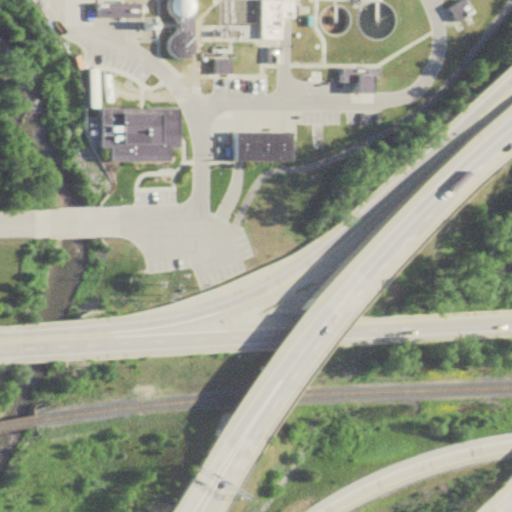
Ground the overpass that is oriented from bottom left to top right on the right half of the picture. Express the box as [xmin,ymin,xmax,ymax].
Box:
[176,102,512,512]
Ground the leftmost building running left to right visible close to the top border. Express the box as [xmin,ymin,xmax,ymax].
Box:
[94,4,142,18]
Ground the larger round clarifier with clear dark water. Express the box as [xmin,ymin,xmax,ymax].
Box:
[358,0,396,39]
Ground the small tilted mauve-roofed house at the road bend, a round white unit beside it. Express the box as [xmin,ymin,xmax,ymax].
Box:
[446,1,472,22]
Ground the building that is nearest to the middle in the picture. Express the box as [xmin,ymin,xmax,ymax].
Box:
[234,133,294,162]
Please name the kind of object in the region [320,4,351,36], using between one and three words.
storage tank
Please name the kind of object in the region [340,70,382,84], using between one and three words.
building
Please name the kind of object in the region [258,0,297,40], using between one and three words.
building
